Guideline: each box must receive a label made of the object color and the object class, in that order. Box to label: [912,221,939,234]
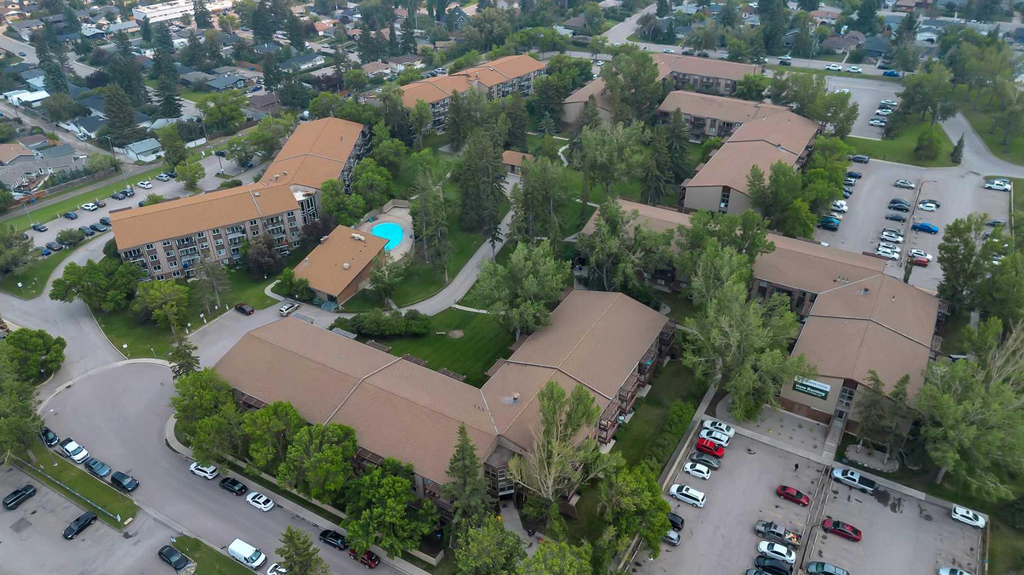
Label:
blue vehicle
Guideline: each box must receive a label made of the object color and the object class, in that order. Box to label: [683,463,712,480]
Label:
white car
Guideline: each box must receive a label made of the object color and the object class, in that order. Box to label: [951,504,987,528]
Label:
white car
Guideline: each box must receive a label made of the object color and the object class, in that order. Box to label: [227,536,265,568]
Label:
white van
